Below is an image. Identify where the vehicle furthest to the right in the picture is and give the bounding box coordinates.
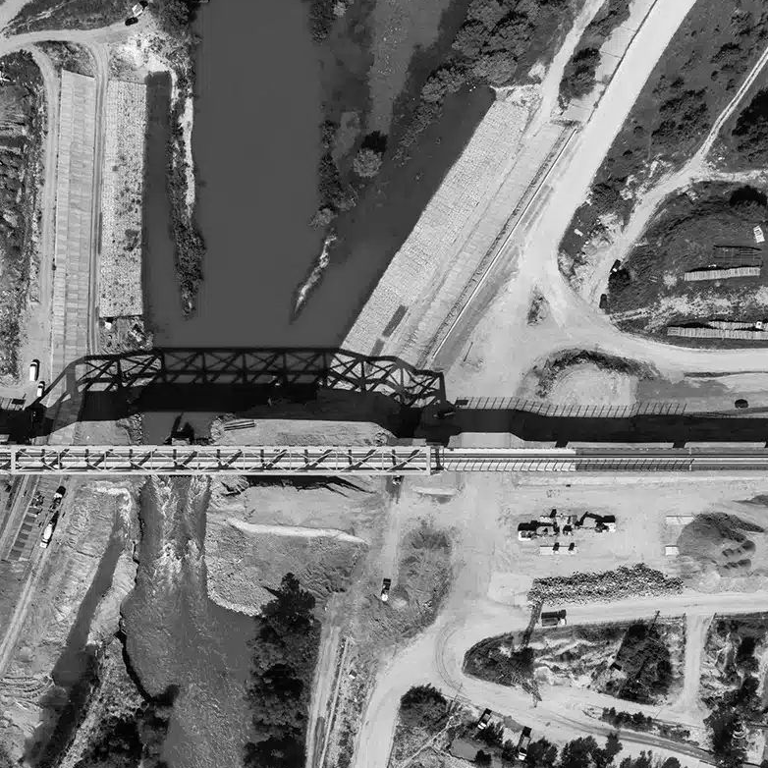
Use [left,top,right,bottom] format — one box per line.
[733,397,750,411]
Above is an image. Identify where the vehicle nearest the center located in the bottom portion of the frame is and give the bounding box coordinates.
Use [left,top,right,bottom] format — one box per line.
[389,474,404,488]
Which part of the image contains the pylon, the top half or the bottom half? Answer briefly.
bottom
